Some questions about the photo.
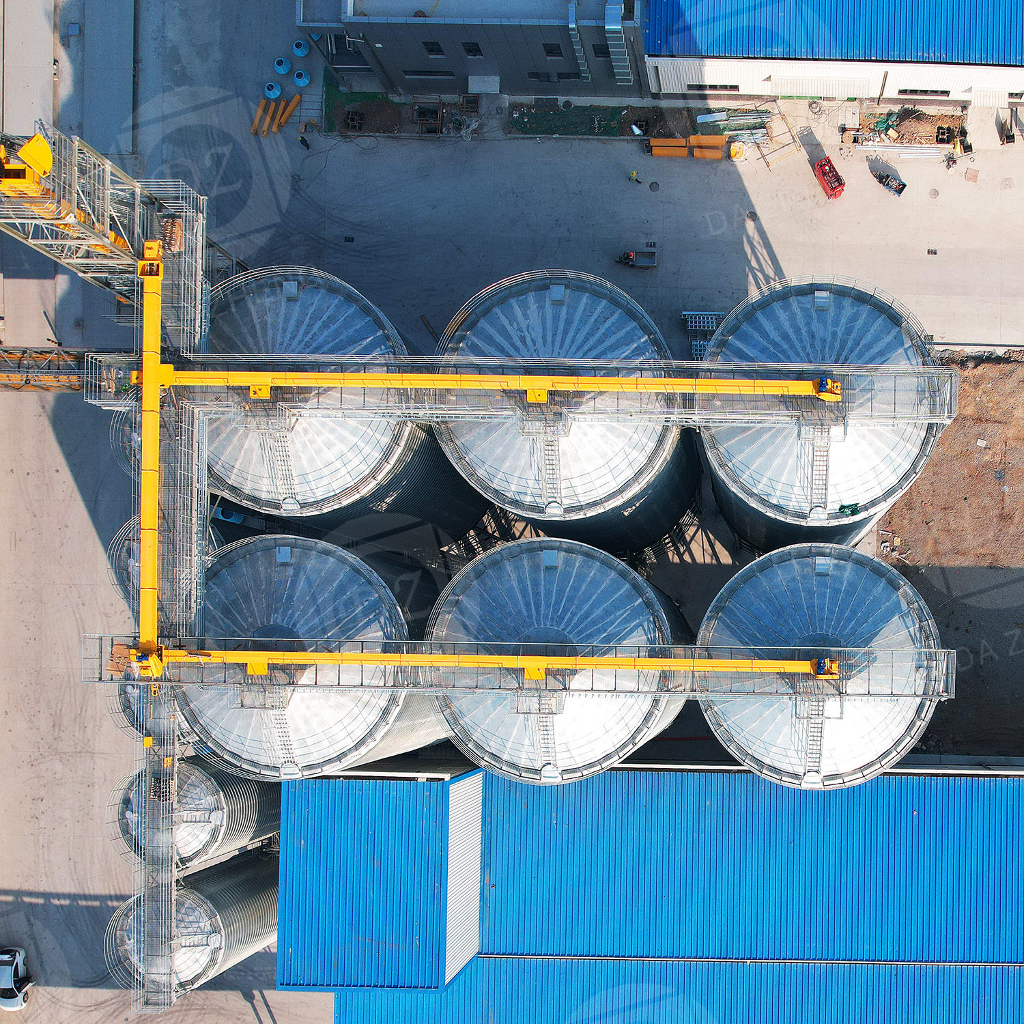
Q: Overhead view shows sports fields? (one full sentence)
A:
No, I can't see a single sports field in this photo.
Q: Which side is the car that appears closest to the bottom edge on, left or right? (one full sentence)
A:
You can find the car that appears closest to the bottom edge on the left side of the picture.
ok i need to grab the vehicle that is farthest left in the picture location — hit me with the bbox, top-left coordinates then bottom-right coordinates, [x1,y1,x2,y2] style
[0,946,37,1010]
